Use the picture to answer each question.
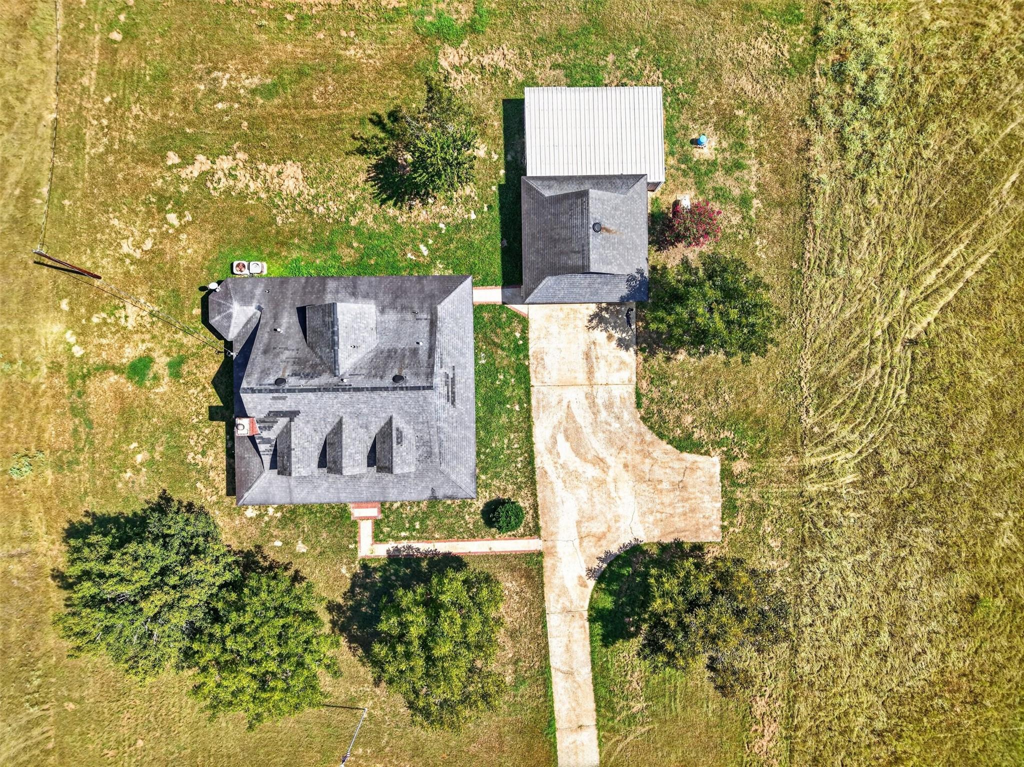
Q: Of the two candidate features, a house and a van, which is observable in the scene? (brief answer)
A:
house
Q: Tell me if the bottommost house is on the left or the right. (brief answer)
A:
left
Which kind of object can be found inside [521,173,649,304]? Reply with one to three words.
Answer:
building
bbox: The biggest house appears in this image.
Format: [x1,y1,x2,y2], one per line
[208,275,477,506]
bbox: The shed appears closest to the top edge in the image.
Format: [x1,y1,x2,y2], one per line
[525,86,665,191]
